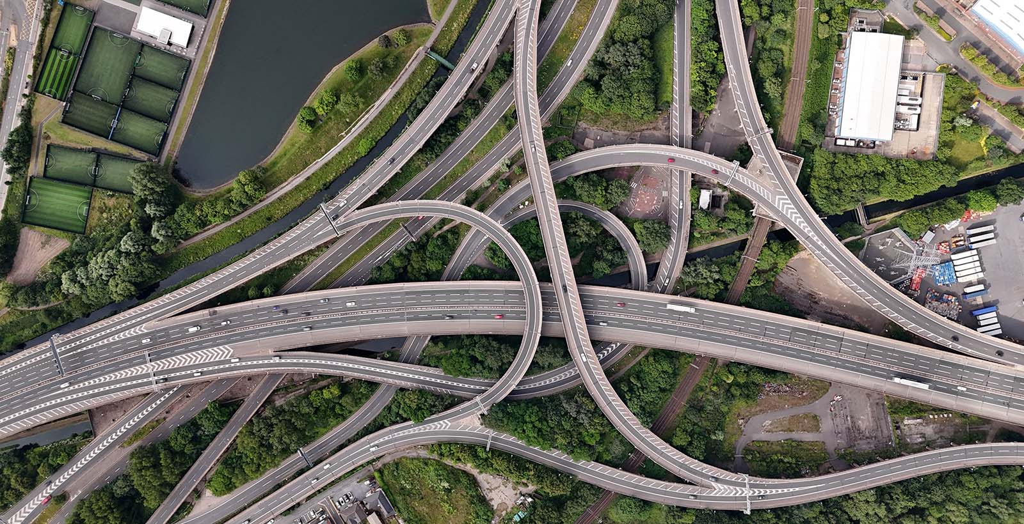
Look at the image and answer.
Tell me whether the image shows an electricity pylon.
Yes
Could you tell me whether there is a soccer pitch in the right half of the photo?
No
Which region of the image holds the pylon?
right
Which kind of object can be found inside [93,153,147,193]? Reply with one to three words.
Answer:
soccer field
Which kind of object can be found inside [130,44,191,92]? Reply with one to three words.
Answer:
soccer field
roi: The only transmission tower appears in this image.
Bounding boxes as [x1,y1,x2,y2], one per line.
[884,242,942,272]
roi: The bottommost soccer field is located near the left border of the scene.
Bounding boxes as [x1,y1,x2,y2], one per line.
[19,176,93,234]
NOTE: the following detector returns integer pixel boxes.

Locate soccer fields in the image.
[93,153,147,193]
[71,25,141,105]
[49,1,94,55]
[130,44,191,92]
[119,75,179,124]
[19,176,93,234]
[32,46,80,101]
[41,144,96,186]
[58,91,119,137]
[159,0,211,17]
[108,107,168,156]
